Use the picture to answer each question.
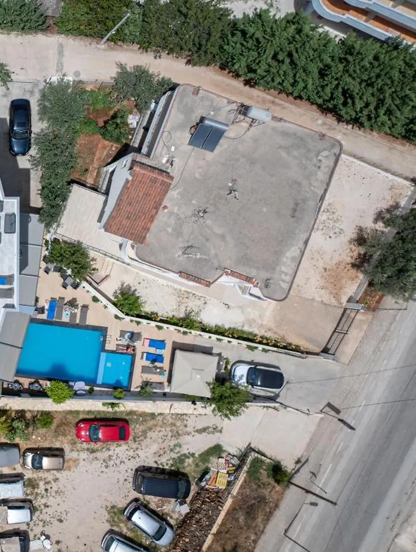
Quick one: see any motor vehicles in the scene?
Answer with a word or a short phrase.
Yes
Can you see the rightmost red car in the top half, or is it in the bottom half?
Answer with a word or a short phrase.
bottom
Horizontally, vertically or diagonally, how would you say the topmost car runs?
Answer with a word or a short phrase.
vertically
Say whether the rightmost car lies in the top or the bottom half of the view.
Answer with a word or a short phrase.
bottom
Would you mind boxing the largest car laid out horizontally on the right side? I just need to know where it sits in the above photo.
[228,363,285,393]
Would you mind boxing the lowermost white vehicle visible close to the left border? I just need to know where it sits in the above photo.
[0,502,34,526]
